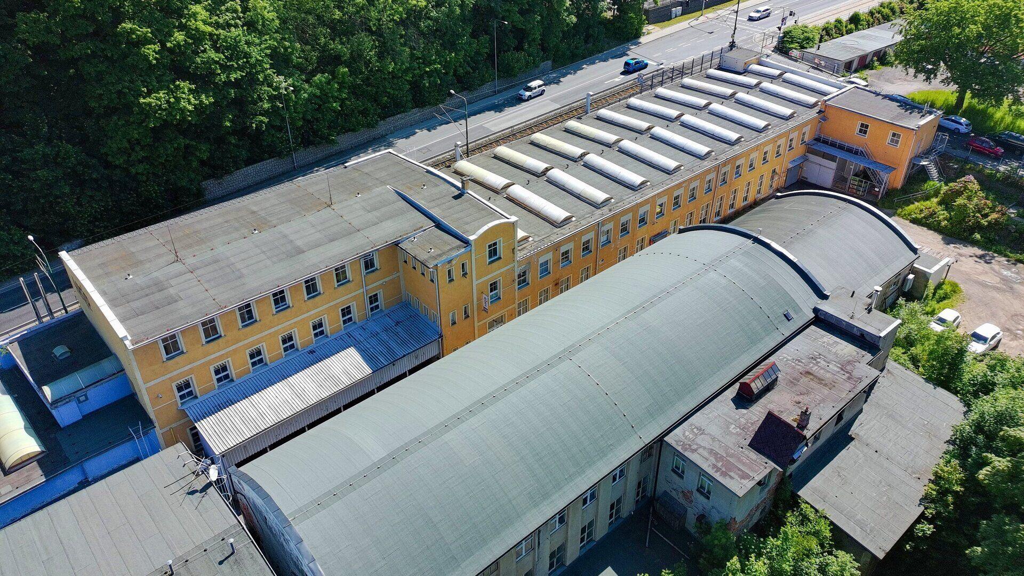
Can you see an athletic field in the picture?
No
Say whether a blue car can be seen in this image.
Yes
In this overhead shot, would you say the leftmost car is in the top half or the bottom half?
top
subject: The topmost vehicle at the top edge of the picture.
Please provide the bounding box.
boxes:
[746,4,771,20]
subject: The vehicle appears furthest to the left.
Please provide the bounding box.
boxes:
[517,78,548,99]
